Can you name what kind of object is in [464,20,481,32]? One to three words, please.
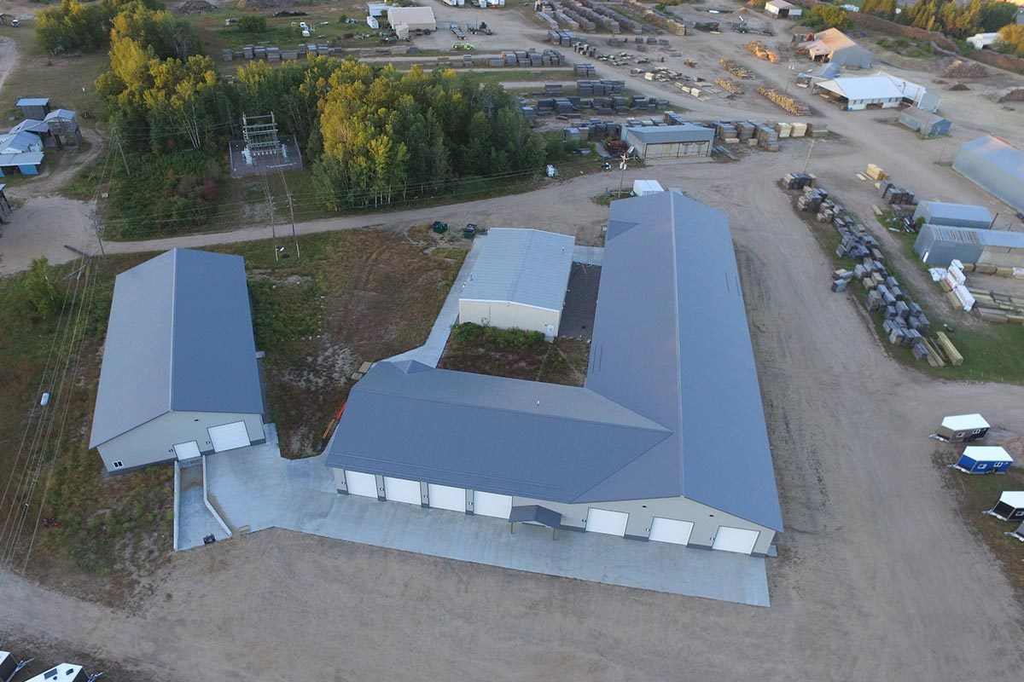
vehicle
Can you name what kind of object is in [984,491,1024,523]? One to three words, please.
trailer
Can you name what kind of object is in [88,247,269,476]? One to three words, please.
building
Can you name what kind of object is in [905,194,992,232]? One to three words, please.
shed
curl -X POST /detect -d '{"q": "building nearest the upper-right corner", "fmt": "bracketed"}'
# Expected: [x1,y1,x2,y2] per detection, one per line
[967,32,1000,51]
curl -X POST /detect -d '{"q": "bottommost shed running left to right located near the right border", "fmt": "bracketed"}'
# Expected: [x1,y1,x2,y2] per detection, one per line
[914,220,1024,273]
